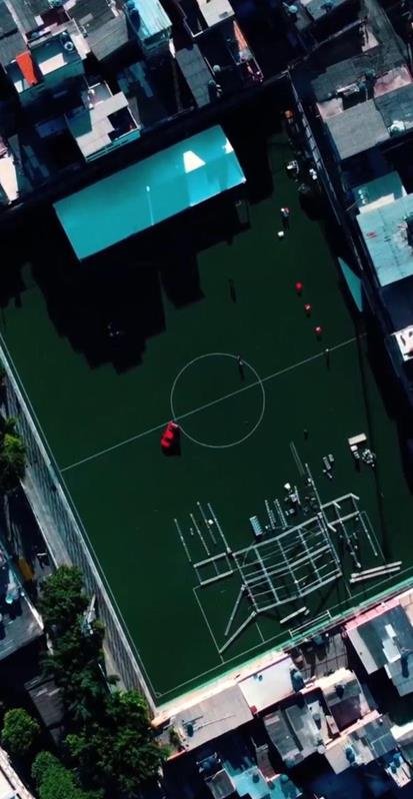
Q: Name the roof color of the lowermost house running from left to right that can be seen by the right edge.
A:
black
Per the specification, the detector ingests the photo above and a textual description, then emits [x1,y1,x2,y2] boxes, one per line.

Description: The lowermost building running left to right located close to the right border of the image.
[300,756,400,799]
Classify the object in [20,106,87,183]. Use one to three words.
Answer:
house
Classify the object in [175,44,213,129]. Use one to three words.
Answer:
house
